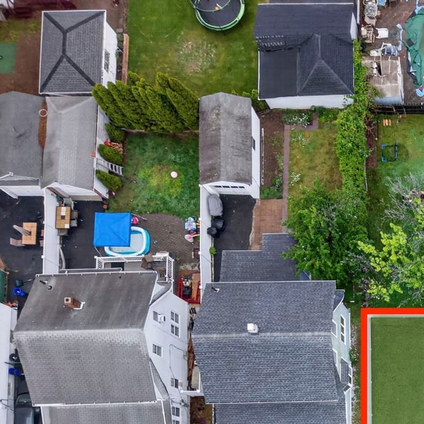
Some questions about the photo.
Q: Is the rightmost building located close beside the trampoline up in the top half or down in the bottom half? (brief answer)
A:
top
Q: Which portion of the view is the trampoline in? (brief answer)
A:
top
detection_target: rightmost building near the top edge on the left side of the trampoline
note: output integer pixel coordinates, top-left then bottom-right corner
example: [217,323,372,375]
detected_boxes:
[38,9,120,97]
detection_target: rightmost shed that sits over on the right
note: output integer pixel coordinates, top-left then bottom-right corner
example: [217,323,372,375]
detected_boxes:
[363,55,403,104]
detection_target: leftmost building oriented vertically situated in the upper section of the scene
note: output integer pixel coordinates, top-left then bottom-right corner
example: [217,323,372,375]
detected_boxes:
[0,92,46,193]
